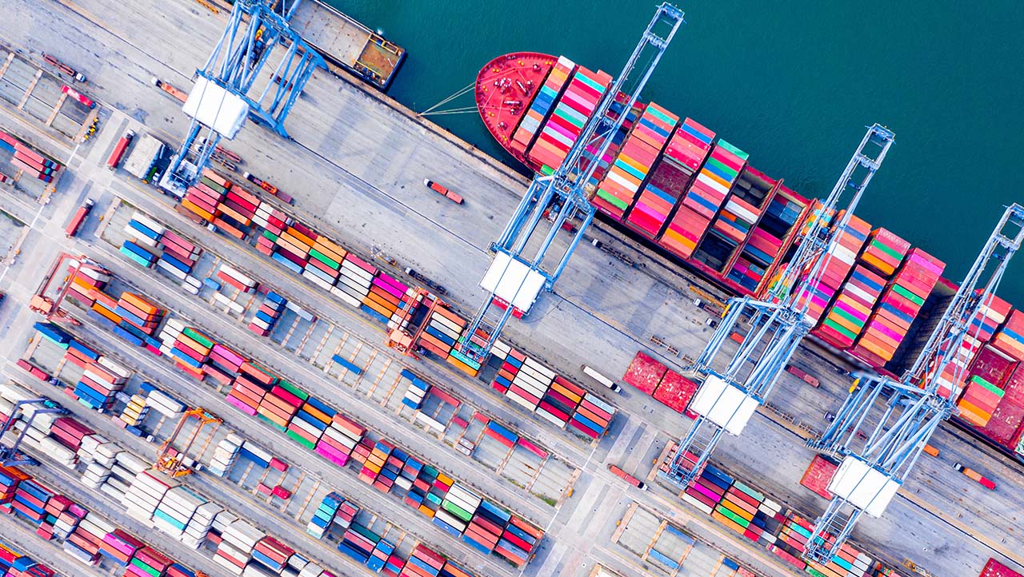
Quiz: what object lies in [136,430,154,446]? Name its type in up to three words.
vehicle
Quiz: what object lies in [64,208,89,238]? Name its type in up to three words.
shipping container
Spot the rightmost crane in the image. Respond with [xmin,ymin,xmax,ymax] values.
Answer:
[799,198,1024,577]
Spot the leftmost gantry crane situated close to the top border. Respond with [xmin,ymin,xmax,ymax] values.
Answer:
[157,0,334,199]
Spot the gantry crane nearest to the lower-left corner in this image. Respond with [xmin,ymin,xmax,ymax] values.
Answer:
[0,390,71,464]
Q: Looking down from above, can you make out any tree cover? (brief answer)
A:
No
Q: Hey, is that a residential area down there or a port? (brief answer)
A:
port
